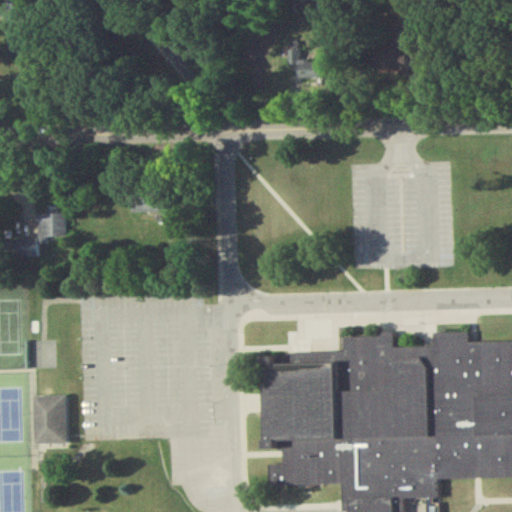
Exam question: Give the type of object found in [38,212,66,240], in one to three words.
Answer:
house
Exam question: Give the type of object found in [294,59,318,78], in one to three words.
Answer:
house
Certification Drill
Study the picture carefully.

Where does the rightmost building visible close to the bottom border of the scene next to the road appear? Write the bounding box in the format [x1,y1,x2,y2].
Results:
[259,326,512,512]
